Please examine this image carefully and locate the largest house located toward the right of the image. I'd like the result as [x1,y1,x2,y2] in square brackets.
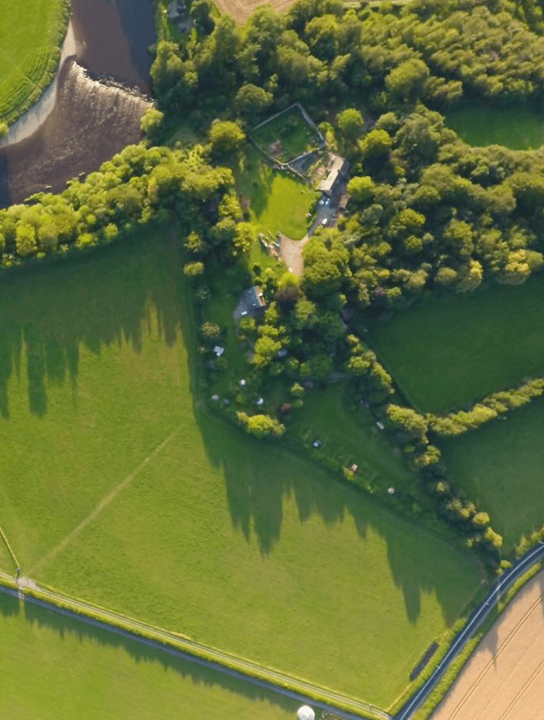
[316,153,351,192]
